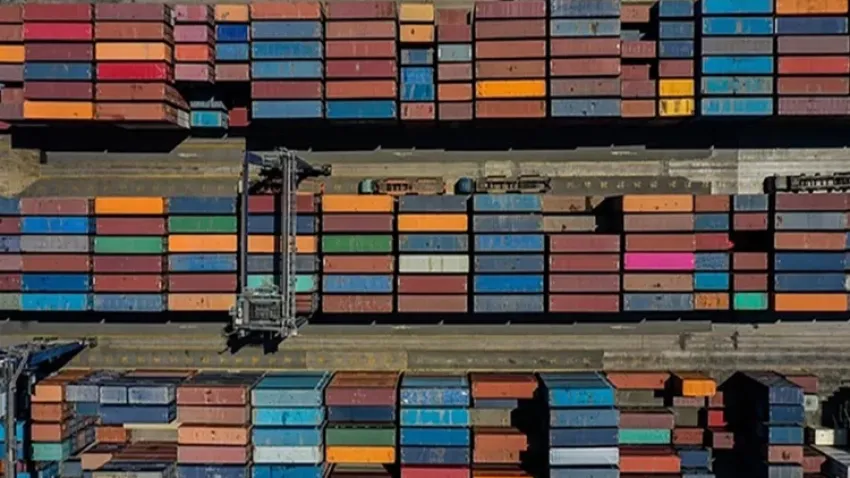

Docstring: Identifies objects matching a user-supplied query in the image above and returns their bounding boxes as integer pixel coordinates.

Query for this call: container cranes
[0,337,97,478]
[222,144,334,339]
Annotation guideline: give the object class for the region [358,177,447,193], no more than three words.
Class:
vehicle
